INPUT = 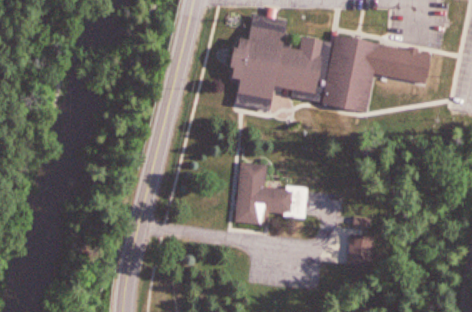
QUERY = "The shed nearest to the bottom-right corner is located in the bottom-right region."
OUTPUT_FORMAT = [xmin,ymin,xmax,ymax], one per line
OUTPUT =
[348,237,374,262]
